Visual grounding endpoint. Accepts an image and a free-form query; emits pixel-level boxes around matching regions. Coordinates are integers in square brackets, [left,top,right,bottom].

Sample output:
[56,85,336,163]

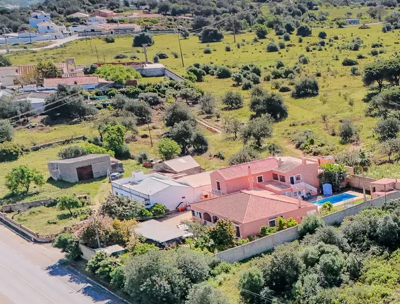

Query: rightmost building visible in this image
[367,174,400,197]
